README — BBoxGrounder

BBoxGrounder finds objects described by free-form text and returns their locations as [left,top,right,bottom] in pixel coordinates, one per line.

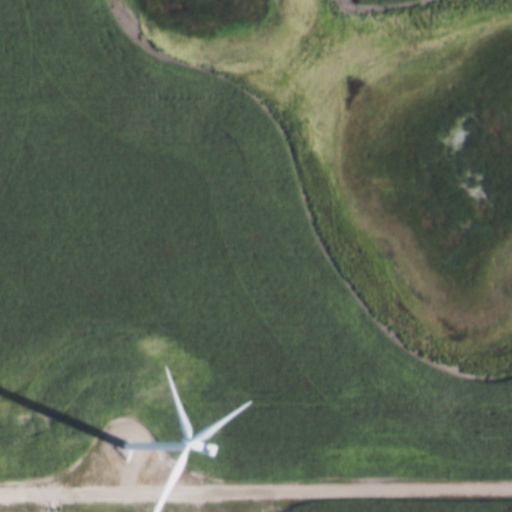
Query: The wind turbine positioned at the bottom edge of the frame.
[122,366,252,512]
